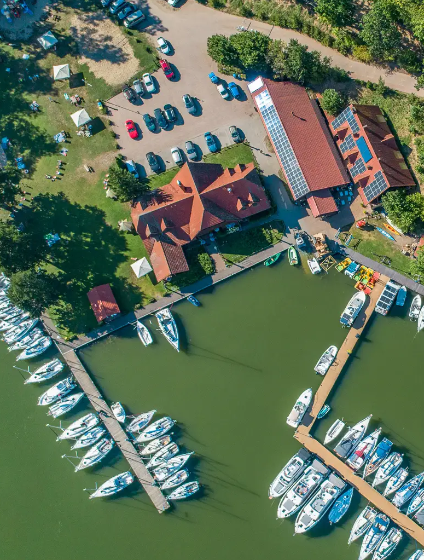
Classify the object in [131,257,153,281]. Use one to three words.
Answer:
gazebo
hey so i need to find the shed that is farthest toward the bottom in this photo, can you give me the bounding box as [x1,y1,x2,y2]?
[87,284,120,322]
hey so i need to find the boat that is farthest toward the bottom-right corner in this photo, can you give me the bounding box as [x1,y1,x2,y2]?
[407,546,424,560]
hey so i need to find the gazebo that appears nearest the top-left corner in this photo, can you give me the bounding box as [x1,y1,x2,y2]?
[38,32,61,53]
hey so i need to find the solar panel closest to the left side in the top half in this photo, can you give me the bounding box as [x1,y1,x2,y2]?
[255,90,309,198]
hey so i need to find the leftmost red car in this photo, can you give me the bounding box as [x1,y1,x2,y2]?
[126,120,139,141]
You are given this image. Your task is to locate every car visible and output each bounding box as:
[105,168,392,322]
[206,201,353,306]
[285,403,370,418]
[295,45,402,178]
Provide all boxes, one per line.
[155,36,172,56]
[203,132,218,154]
[216,84,229,101]
[109,0,128,14]
[161,58,177,81]
[133,80,146,98]
[117,5,138,22]
[123,9,147,29]
[147,152,161,173]
[164,105,177,123]
[123,85,138,104]
[126,120,139,141]
[153,108,169,130]
[227,81,241,101]
[230,125,241,144]
[166,0,180,7]
[143,114,157,133]
[143,73,157,94]
[185,141,198,161]
[124,159,141,176]
[182,94,197,116]
[171,147,185,166]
